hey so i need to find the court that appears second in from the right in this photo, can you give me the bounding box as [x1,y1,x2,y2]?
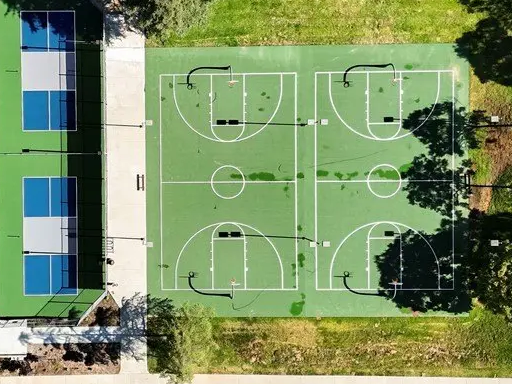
[146,45,308,317]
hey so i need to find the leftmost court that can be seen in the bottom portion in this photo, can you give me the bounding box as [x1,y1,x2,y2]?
[0,153,105,319]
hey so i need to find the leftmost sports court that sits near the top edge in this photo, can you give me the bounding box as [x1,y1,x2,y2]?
[0,0,105,153]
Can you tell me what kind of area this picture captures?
sports ground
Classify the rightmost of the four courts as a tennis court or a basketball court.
basketball court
